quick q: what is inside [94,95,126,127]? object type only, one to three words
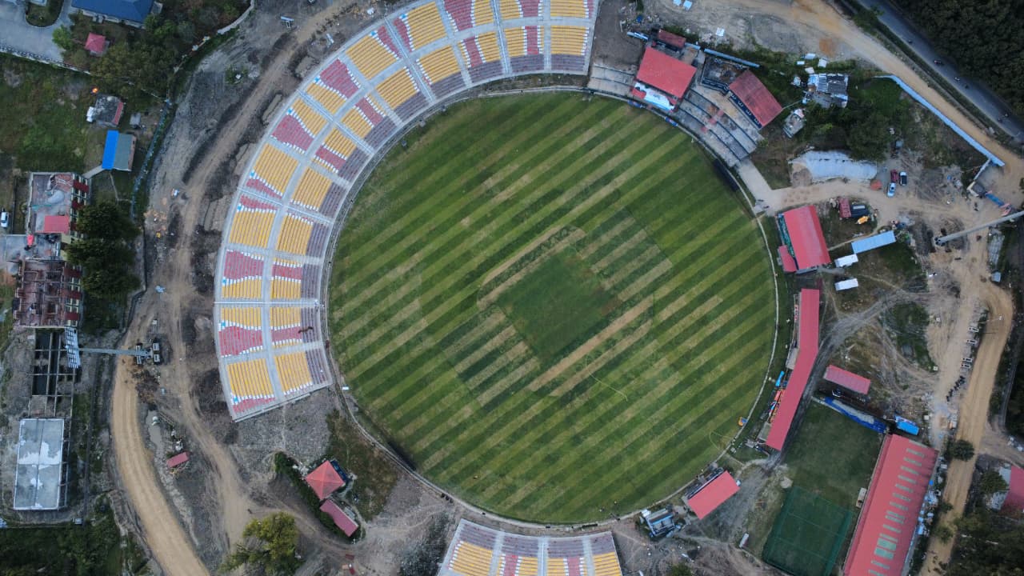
house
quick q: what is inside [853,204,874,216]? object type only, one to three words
vehicle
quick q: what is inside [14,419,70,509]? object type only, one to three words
building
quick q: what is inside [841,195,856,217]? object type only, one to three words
vehicle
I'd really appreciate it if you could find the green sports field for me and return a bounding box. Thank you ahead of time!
[322,85,778,531]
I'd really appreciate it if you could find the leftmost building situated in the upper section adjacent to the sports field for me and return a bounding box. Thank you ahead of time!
[628,47,696,117]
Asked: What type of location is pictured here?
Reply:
sports ground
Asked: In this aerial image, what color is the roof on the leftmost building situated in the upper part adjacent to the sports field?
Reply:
red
